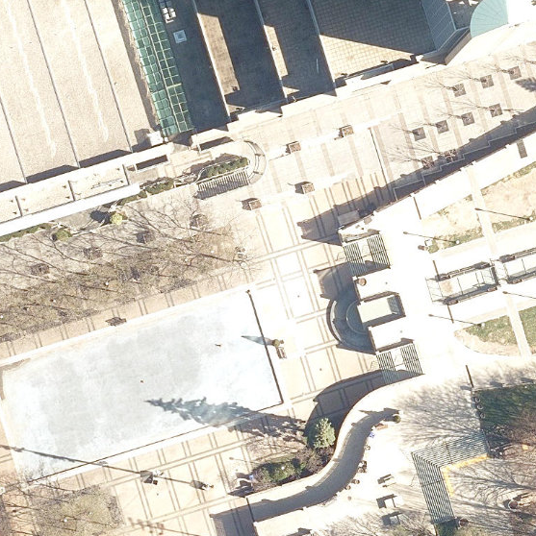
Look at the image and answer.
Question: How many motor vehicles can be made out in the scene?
none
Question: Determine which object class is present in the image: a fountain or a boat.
fountain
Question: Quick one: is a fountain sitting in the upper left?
No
